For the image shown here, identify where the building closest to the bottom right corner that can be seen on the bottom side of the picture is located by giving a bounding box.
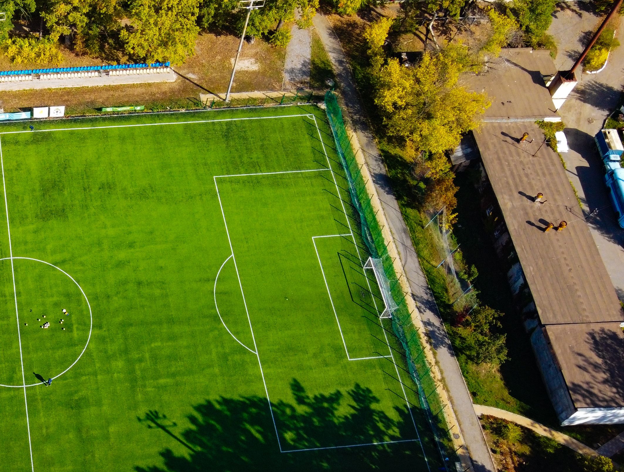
[531,325,624,420]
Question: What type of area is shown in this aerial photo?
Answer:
sports ground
